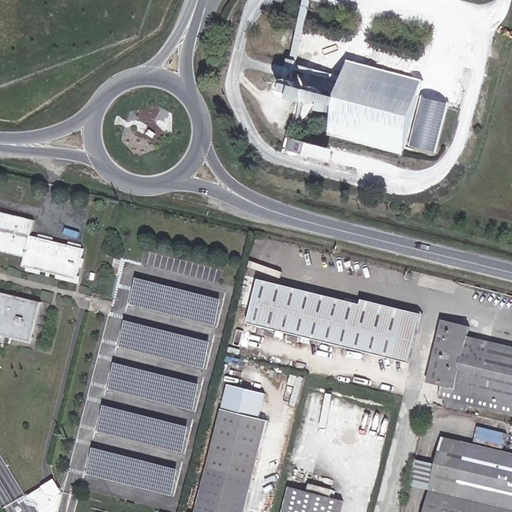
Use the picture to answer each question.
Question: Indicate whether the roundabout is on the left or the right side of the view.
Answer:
left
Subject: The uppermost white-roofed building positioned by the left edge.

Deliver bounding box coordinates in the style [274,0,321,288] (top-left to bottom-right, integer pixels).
[0,211,38,256]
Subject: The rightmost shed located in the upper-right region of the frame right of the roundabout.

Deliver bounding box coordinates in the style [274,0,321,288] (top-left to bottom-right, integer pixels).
[406,94,448,155]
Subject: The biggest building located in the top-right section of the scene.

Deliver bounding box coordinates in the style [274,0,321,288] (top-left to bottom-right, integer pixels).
[327,60,422,154]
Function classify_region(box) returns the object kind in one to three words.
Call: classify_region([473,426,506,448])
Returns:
shed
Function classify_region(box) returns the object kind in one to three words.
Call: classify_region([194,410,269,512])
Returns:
shed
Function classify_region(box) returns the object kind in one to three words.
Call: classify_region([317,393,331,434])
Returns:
vehicle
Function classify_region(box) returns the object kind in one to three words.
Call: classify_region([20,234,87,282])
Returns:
building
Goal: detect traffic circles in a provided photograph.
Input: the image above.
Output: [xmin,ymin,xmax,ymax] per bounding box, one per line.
[82,66,212,196]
